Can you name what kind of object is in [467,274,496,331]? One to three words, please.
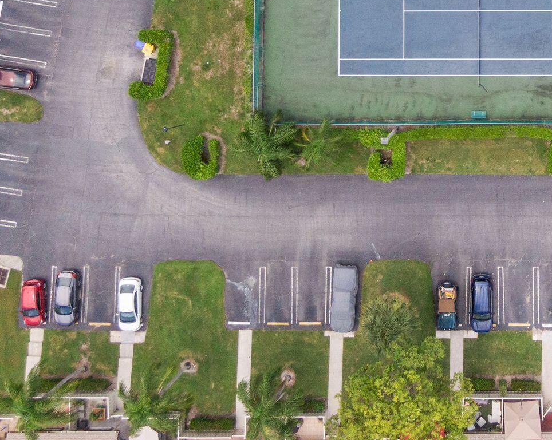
car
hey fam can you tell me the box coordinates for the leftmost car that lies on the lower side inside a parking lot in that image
[19,281,50,327]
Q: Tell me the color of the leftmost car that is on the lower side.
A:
red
